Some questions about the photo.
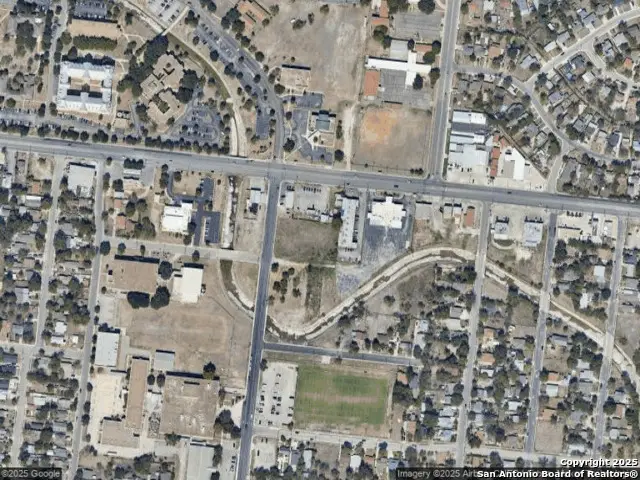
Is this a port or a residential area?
residential area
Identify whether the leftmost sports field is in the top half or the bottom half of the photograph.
bottom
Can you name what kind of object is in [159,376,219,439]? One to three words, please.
building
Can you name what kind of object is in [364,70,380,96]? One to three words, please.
building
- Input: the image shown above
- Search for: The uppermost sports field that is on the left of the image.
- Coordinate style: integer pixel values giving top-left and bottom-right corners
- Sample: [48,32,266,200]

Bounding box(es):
[164,304,231,356]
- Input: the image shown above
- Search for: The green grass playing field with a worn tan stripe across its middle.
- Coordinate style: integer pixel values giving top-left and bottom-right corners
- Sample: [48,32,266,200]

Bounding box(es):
[296,364,390,427]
